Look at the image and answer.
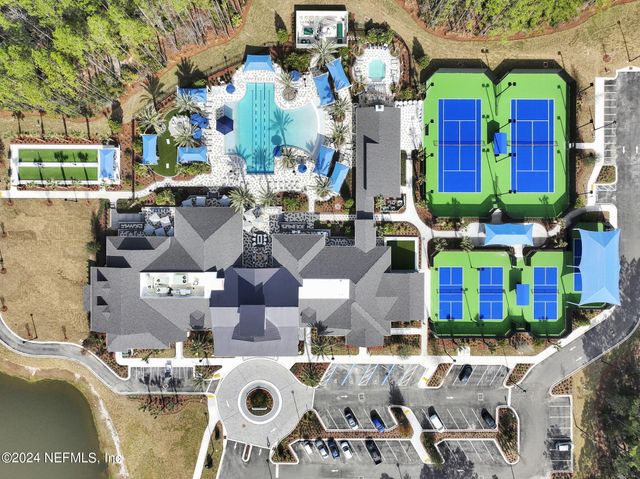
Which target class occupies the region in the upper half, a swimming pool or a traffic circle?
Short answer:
swimming pool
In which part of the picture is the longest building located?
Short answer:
center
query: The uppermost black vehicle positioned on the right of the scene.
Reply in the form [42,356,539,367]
[458,363,472,382]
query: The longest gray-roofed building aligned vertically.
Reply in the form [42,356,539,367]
[356,105,401,212]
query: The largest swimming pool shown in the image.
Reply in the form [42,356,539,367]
[224,82,320,174]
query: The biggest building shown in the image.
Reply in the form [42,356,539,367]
[84,207,424,356]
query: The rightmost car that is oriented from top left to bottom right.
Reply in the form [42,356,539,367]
[481,409,495,428]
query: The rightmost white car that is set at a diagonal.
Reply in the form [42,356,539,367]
[428,411,443,431]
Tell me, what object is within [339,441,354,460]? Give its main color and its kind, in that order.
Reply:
white car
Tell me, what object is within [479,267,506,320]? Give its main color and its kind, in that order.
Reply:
blue sports court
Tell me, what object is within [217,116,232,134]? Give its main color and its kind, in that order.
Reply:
blue umbrella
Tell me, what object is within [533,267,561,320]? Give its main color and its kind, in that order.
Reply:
blue sports court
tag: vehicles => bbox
[326,440,341,458]
[428,411,443,431]
[550,441,569,452]
[458,363,472,382]
[339,441,354,460]
[371,414,385,433]
[344,411,359,430]
[301,438,316,457]
[366,442,382,465]
[481,409,495,428]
